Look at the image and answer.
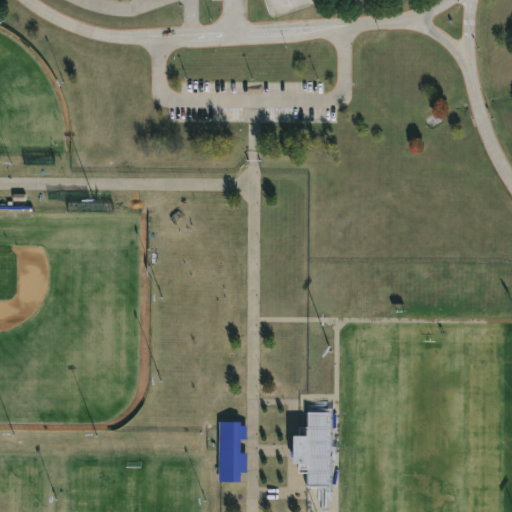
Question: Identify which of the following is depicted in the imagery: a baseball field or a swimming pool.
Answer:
baseball field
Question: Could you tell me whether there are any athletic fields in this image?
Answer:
Yes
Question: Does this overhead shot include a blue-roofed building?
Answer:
Yes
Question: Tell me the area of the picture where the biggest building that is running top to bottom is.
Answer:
bottom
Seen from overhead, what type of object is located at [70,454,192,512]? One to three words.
soccer field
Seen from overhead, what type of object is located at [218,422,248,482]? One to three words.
building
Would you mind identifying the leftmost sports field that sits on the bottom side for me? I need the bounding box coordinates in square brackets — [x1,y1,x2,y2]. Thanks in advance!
[0,456,52,512]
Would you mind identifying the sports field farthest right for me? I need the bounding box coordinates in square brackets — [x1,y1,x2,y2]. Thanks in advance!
[340,323,512,512]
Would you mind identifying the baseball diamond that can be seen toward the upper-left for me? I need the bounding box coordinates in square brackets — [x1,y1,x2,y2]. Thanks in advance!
[0,26,72,160]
